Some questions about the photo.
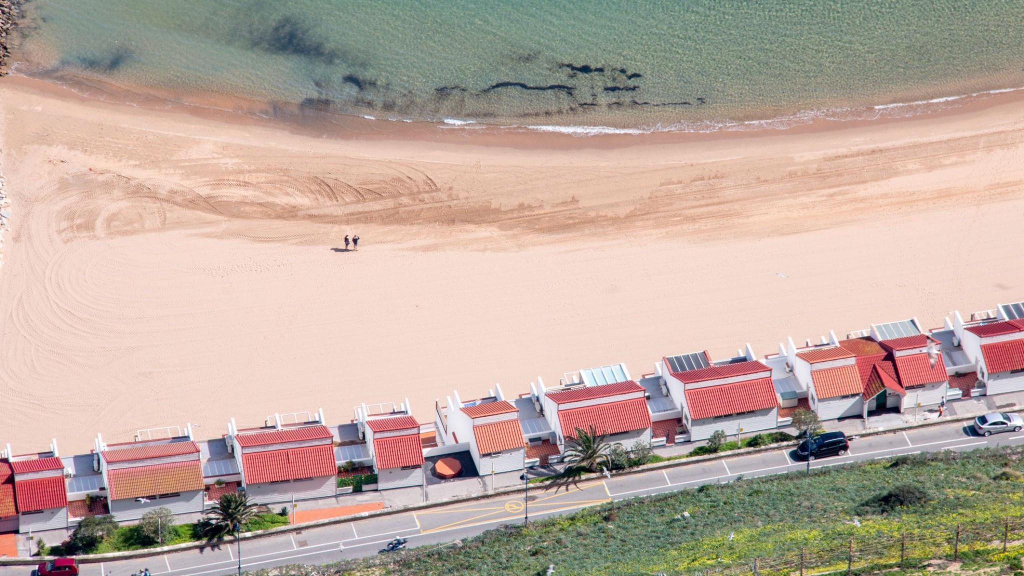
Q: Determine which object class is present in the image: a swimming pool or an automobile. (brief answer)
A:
automobile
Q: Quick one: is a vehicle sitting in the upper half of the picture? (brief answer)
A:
No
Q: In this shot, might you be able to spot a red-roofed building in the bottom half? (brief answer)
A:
Yes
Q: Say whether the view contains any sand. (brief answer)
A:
Yes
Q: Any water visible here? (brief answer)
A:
Yes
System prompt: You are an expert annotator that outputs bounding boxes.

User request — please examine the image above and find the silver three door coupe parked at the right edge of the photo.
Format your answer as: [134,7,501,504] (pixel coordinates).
[975,412,1024,436]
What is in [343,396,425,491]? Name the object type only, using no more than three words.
house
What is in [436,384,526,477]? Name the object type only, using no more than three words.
house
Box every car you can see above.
[35,558,79,576]
[801,430,849,460]
[975,412,1024,436]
